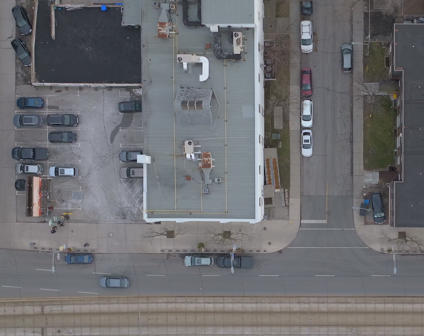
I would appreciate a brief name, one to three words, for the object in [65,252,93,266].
car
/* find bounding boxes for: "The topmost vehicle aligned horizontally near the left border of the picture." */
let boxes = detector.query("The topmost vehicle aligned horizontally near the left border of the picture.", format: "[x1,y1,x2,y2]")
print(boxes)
[17,96,45,109]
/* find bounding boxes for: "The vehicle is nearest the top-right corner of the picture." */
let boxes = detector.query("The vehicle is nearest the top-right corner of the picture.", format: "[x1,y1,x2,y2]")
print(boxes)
[340,43,355,72]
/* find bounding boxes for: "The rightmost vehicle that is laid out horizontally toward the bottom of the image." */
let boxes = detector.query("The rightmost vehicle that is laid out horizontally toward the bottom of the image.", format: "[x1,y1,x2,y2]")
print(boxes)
[217,255,253,270]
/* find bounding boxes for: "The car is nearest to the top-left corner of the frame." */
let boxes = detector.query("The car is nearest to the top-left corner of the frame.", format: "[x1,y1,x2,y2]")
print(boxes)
[10,4,32,36]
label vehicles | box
[299,98,313,128]
[48,129,77,144]
[46,112,78,127]
[299,68,313,96]
[300,0,313,16]
[17,96,45,109]
[14,113,44,128]
[300,20,313,53]
[49,164,78,179]
[300,129,313,156]
[16,161,44,176]
[120,149,142,163]
[9,37,31,67]
[185,255,214,269]
[65,252,93,266]
[10,4,32,36]
[120,165,143,180]
[217,255,253,270]
[119,100,142,113]
[340,43,355,72]
[12,145,49,161]
[15,180,26,191]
